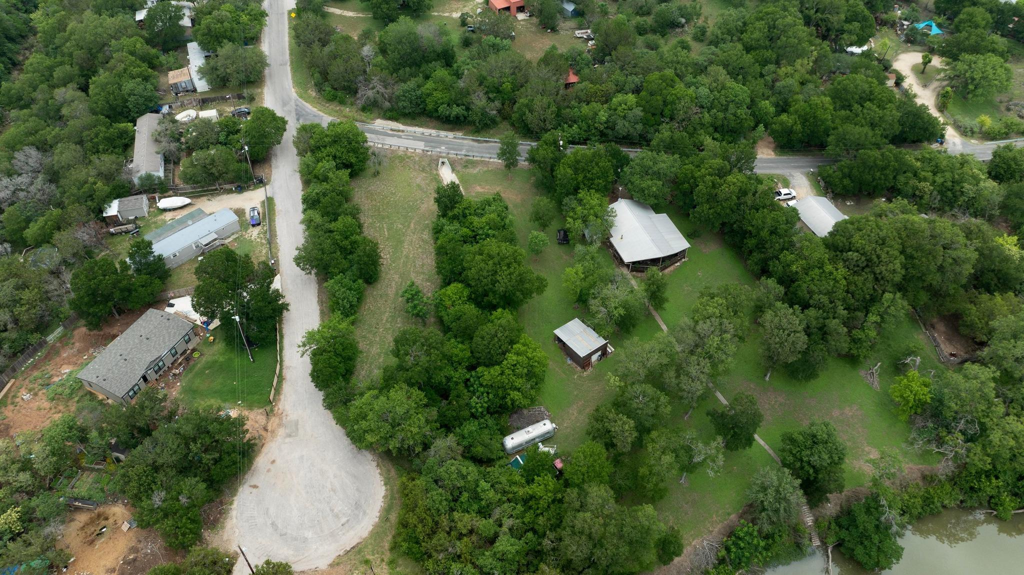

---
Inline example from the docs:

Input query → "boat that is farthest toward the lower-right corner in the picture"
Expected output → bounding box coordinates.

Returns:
[537,442,557,454]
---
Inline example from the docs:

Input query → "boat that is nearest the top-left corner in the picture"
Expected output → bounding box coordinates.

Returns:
[171,108,198,121]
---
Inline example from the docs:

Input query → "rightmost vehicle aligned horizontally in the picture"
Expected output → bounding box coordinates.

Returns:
[773,189,800,203]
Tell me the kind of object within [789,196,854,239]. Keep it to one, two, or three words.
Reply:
building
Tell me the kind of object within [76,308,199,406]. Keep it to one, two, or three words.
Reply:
house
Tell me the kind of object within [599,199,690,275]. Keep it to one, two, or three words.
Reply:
house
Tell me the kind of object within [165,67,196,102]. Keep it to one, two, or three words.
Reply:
shed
